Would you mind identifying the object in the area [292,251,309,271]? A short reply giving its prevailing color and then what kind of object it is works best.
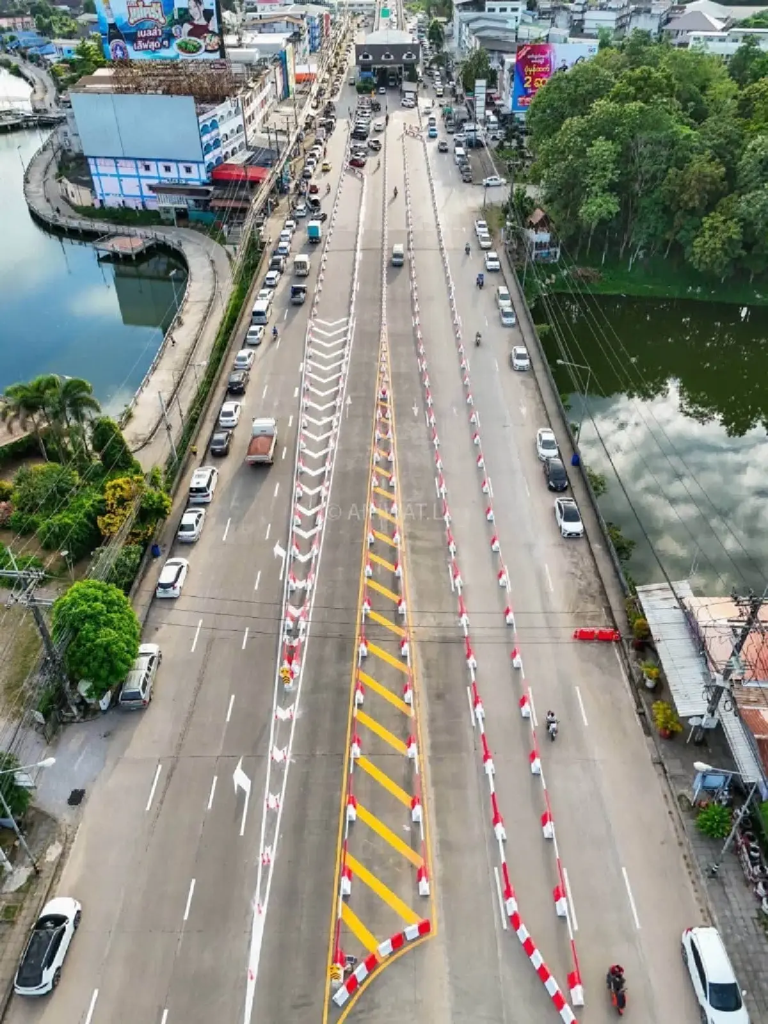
white vehicle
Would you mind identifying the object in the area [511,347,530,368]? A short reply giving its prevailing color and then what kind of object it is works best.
white car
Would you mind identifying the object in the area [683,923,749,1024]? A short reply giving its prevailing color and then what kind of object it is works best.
white car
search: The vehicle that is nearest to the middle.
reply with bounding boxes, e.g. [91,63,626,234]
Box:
[245,414,277,460]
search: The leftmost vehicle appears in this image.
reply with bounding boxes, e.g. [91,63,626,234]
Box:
[10,895,82,1002]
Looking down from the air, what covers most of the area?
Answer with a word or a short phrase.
paved ground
